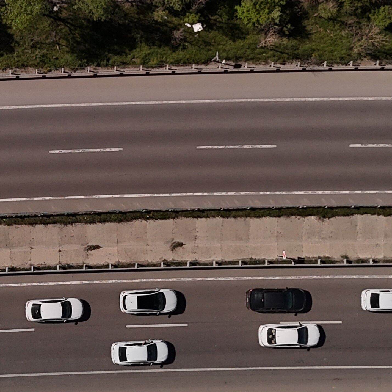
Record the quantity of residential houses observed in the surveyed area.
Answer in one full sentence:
No residential houses are visible.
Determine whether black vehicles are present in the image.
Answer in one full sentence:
Yes, there is a black vehicle in the image.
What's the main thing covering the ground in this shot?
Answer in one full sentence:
What you mostly see from above here is paved ground.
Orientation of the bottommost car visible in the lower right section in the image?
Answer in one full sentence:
From this overhead view, the bottommost car visible in the lower right section appears to run horizontally.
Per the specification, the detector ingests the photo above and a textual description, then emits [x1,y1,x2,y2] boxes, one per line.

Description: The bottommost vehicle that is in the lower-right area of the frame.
[258,322,319,351]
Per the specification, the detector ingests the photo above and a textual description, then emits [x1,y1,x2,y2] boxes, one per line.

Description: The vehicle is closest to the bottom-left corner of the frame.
[25,296,83,324]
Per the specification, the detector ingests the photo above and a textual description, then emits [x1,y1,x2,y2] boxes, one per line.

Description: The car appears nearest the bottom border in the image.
[110,339,168,367]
